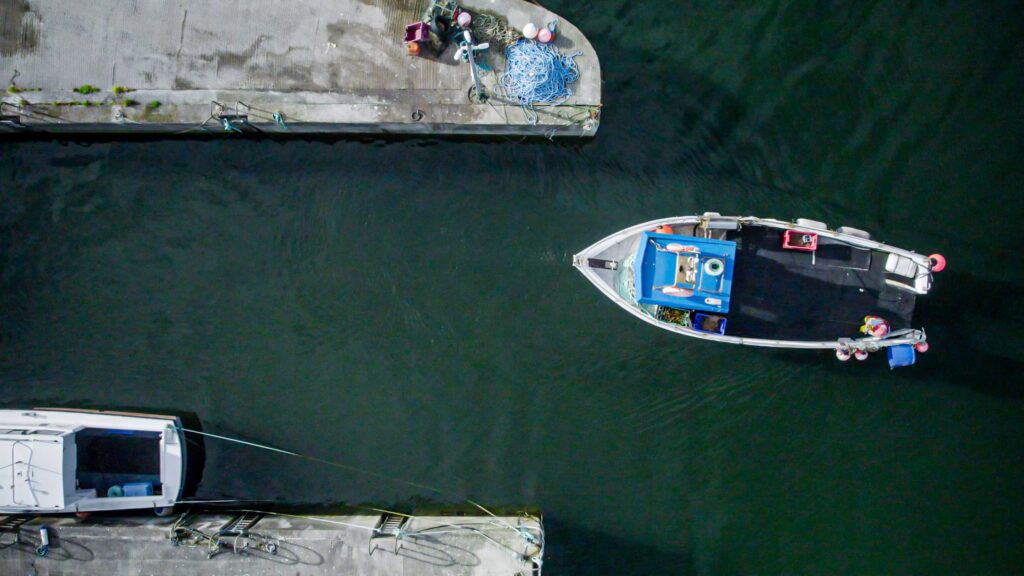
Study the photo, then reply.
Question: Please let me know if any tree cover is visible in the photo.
No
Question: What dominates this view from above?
water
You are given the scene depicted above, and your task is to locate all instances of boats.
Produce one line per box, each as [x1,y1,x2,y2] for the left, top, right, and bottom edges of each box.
[0,406,207,513]
[573,215,935,350]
